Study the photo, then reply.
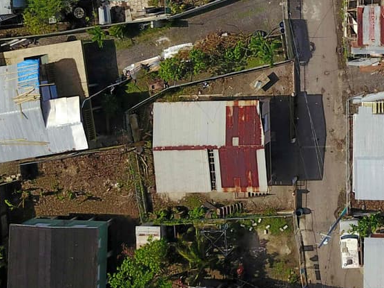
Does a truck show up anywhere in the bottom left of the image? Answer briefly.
No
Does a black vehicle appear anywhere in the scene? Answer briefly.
No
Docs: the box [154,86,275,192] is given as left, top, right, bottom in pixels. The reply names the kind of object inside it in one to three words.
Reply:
house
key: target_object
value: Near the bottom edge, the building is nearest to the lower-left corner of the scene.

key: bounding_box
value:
[7,212,112,288]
